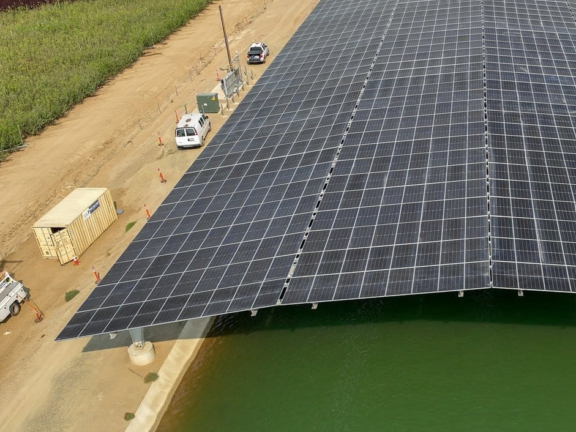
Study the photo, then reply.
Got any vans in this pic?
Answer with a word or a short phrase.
Yes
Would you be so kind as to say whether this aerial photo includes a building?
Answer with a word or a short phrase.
No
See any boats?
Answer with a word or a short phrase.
No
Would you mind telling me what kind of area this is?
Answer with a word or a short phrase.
solar farm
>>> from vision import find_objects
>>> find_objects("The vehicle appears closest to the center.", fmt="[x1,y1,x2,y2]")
[180,112,214,145]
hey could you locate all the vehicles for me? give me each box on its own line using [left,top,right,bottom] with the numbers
[247,41,271,62]
[180,112,214,145]
[0,275,26,319]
